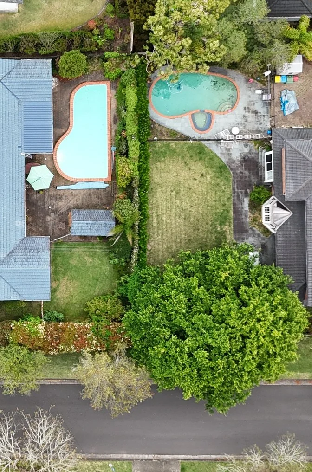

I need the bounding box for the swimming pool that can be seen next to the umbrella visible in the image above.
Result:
[52,81,111,182]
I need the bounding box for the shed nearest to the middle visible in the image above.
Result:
[71,210,115,236]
